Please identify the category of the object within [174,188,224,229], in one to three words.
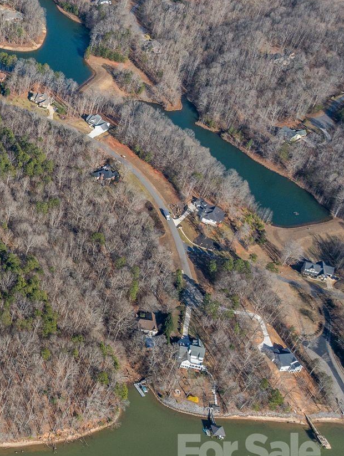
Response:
house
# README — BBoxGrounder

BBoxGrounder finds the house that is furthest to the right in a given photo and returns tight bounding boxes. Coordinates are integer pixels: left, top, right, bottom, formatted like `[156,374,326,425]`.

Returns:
[297,256,330,286]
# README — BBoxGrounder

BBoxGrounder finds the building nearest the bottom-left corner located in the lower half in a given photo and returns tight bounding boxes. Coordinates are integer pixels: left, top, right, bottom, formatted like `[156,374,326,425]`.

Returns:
[135,311,158,340]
